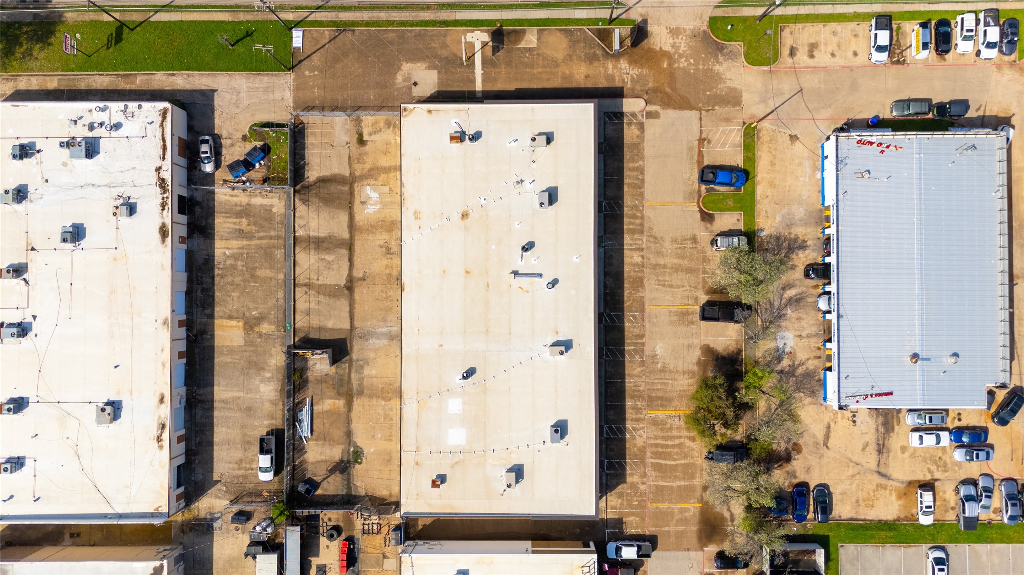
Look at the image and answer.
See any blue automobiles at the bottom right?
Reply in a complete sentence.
Yes, there is a blue automobile at the bottom right.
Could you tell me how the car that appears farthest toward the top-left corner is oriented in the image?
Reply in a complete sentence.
The car that appears farthest toward the top-left corner is laid out up and down.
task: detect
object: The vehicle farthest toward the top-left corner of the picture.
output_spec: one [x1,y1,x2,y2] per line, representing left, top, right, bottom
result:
[198,135,219,174]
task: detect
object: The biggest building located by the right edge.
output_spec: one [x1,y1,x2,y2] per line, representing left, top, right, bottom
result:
[820,131,1012,411]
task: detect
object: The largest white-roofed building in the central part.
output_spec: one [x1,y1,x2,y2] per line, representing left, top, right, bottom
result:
[400,99,598,518]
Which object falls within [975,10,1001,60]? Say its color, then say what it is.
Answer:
white truck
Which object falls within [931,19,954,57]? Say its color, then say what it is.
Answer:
black car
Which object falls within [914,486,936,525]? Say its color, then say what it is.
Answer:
white car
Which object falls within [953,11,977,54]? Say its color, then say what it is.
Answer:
white car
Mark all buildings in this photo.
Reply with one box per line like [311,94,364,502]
[0,103,188,525]
[401,538,597,575]
[400,99,598,518]
[820,131,1012,411]
[0,546,184,575]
